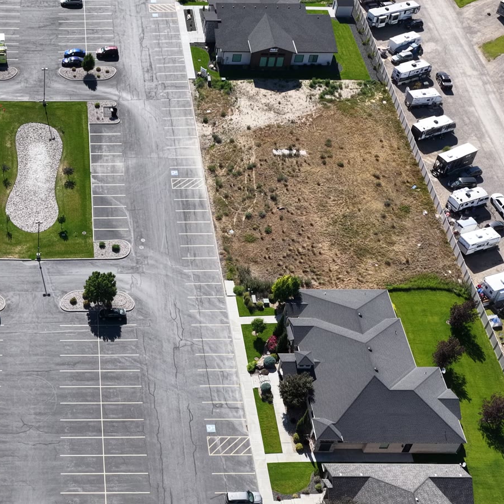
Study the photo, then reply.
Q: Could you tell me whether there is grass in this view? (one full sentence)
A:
Yes, there is grass in the image.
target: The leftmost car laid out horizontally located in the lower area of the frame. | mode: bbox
[99,307,128,320]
